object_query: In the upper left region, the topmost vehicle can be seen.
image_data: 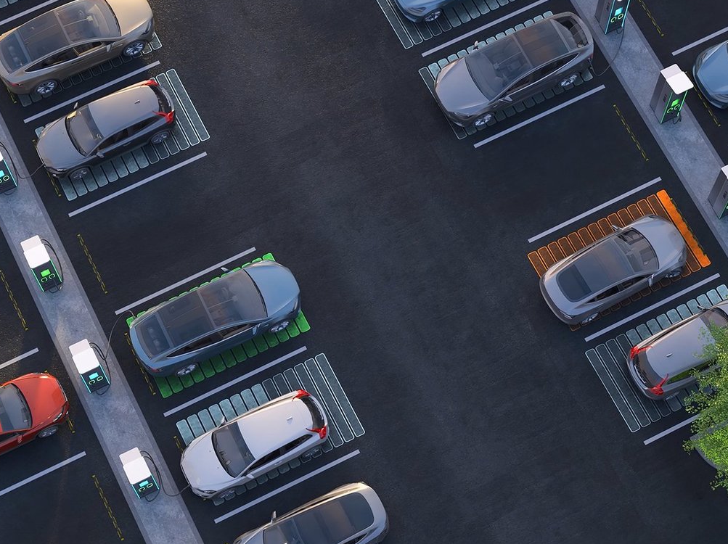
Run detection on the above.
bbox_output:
[0,0,155,93]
